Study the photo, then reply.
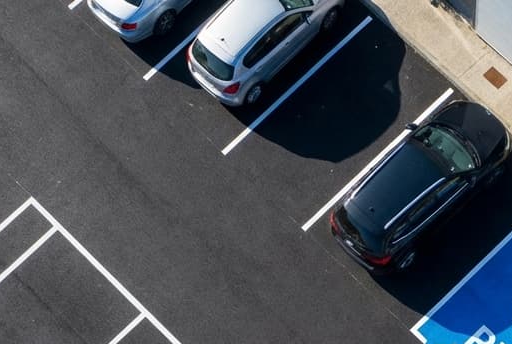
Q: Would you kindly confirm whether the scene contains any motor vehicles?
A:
Yes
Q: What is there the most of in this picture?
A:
paved ground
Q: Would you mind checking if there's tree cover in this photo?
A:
No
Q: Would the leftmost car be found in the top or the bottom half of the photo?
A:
top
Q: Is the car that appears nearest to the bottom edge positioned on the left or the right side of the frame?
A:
right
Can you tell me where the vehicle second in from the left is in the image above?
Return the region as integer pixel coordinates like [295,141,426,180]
[188,0,351,103]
